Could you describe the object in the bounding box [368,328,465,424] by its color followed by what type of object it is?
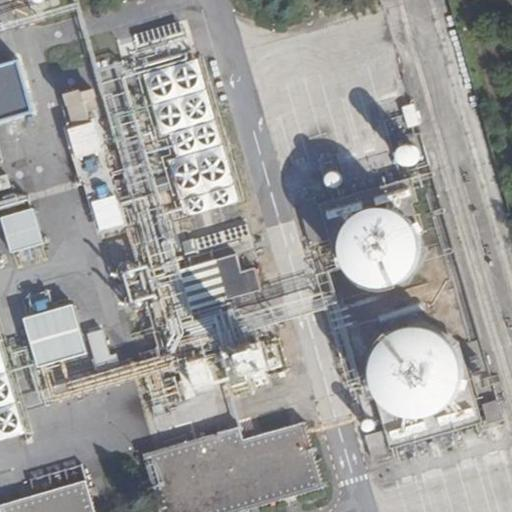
white storage tank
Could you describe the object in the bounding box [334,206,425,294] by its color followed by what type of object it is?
white storage tank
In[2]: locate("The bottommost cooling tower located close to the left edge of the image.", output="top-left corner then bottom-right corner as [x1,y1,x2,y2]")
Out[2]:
[0,405,28,438]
